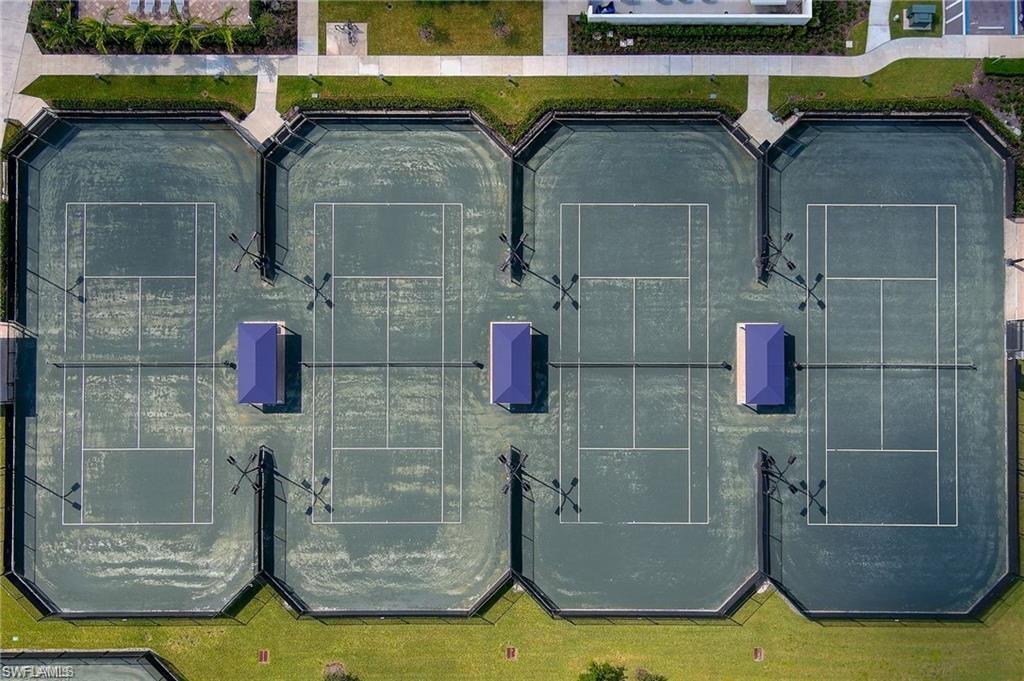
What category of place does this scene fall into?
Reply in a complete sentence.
It's a sports ground.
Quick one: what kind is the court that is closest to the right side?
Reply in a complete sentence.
From above, the court that is closest to the right side can be identified as a tennis court.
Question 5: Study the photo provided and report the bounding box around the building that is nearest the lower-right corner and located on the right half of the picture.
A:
[737,322,784,404]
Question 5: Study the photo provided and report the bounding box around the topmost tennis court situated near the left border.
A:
[13,118,263,612]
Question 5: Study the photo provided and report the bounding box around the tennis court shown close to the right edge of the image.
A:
[757,118,1008,611]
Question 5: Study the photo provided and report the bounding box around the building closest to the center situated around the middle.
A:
[490,322,532,404]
